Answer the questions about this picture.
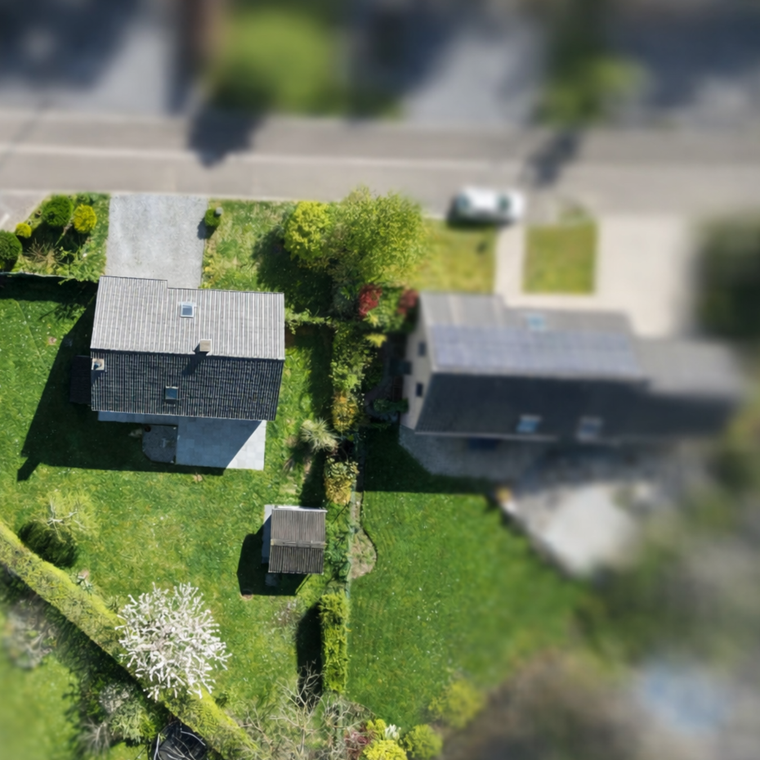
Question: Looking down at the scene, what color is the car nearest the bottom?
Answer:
white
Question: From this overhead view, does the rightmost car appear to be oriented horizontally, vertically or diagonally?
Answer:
horizontally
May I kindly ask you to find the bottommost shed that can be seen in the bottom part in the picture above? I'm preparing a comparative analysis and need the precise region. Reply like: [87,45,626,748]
[261,501,330,577]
